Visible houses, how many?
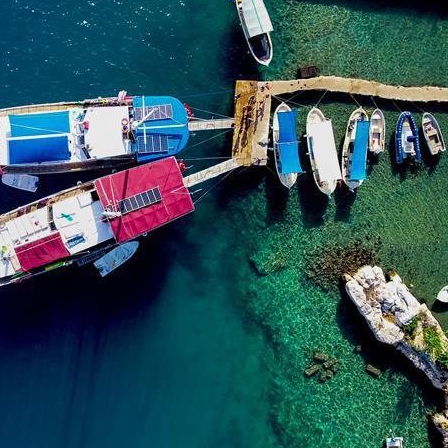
0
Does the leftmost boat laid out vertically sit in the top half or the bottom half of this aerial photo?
top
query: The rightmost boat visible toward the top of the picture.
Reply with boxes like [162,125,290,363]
[419,108,445,157]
